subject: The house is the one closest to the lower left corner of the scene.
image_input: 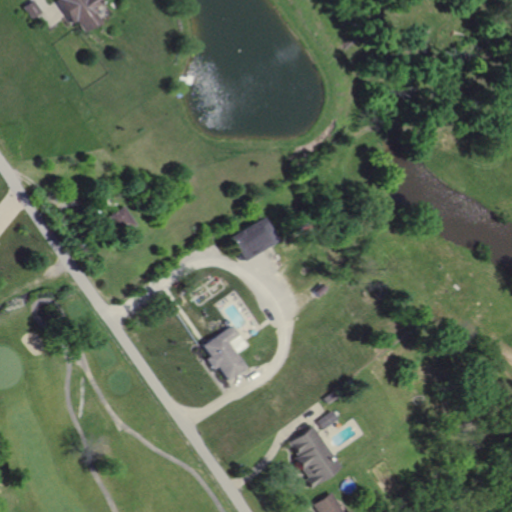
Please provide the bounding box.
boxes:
[202,328,250,383]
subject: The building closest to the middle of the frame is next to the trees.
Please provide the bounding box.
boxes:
[232,217,280,260]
